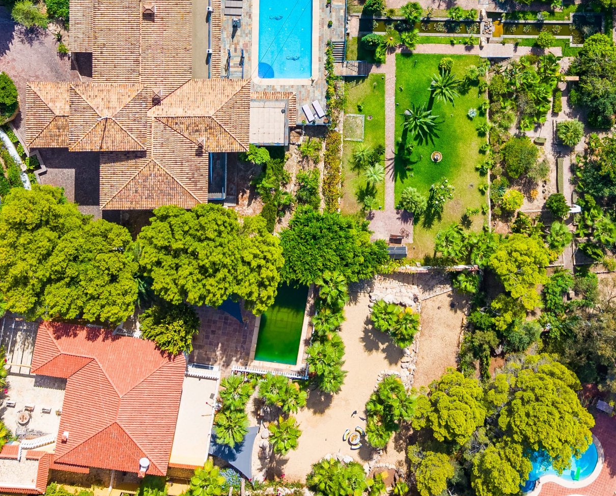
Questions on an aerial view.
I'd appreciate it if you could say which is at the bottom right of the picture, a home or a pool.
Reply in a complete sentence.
There is a pool at the bottom right of the picture.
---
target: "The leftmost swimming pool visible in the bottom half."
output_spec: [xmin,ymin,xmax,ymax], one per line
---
[250,274,314,370]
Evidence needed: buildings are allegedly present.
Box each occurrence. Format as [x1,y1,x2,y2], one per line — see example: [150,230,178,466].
[30,318,223,496]
[24,0,296,210]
